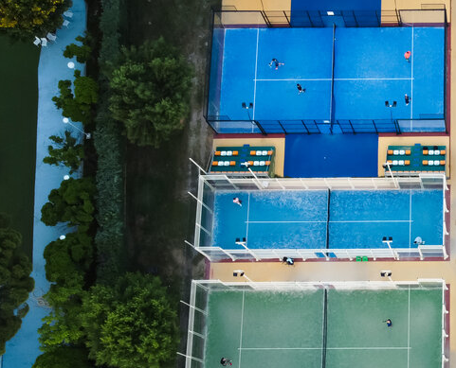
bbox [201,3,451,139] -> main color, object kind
blue sports court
